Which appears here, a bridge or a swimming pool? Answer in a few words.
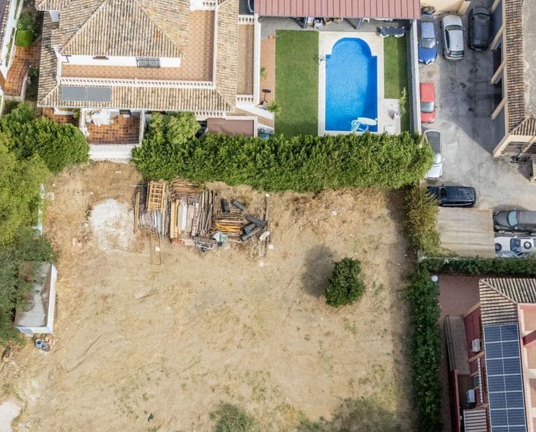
swimming pool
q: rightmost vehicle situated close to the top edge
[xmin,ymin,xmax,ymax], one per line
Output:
[465,7,494,55]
